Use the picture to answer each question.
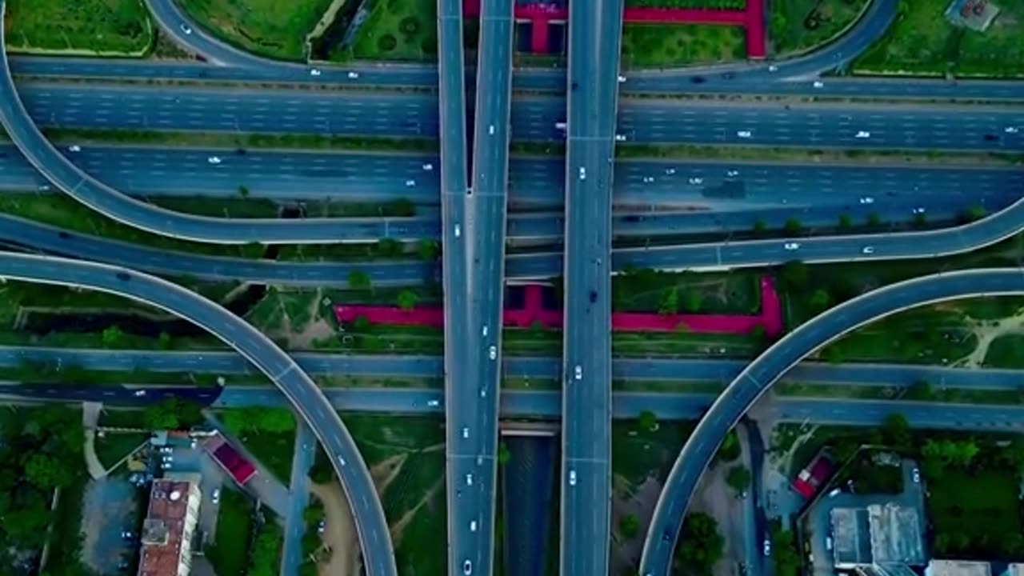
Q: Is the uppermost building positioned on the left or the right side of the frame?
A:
right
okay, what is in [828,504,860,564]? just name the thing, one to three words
building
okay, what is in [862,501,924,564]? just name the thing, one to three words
building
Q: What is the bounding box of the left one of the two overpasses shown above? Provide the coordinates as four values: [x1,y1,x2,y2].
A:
[437,0,514,576]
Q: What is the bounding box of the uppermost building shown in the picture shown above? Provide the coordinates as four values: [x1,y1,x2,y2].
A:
[943,0,1000,33]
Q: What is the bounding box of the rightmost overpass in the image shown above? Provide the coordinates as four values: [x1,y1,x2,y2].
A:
[561,0,623,576]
